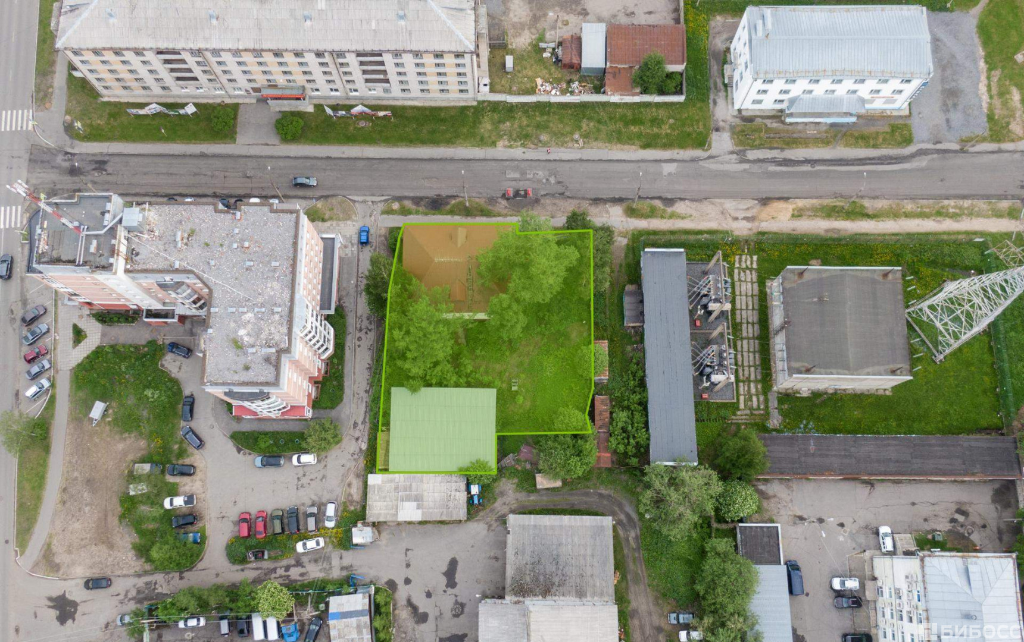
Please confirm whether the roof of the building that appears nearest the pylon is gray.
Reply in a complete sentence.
Yes, the roof of the building that appears nearest the pylon appears gray.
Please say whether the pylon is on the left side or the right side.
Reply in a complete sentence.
The pylon is on the right side of the image.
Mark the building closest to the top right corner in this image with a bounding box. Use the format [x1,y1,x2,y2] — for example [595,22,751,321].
[723,2,932,123]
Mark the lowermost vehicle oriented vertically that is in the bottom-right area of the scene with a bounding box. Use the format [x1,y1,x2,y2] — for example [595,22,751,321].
[784,561,805,596]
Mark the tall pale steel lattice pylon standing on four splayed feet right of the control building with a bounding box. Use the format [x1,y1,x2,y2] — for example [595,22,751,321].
[906,238,1024,362]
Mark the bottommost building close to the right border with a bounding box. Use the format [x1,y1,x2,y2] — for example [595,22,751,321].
[864,550,1024,642]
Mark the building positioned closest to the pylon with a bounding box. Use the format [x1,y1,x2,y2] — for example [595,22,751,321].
[761,265,912,396]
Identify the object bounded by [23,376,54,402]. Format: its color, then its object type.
white car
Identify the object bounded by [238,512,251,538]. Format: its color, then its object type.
red vehicle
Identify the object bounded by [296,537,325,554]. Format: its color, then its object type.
white car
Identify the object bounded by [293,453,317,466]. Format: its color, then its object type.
white vehicle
